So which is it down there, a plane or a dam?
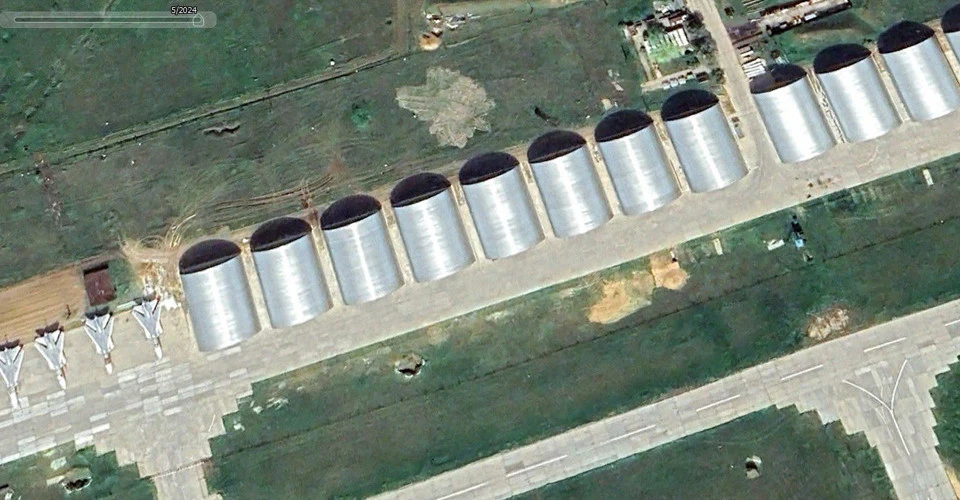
plane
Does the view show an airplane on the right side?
No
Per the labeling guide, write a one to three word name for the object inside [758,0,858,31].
building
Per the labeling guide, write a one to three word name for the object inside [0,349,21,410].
airplane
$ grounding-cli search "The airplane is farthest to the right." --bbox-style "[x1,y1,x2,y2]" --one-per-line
[130,300,161,358]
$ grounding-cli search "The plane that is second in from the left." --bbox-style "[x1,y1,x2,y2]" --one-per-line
[36,332,66,391]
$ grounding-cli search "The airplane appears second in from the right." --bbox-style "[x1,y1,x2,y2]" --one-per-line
[82,315,111,375]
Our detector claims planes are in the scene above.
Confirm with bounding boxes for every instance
[82,315,111,375]
[36,332,66,391]
[130,300,161,358]
[0,349,21,410]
